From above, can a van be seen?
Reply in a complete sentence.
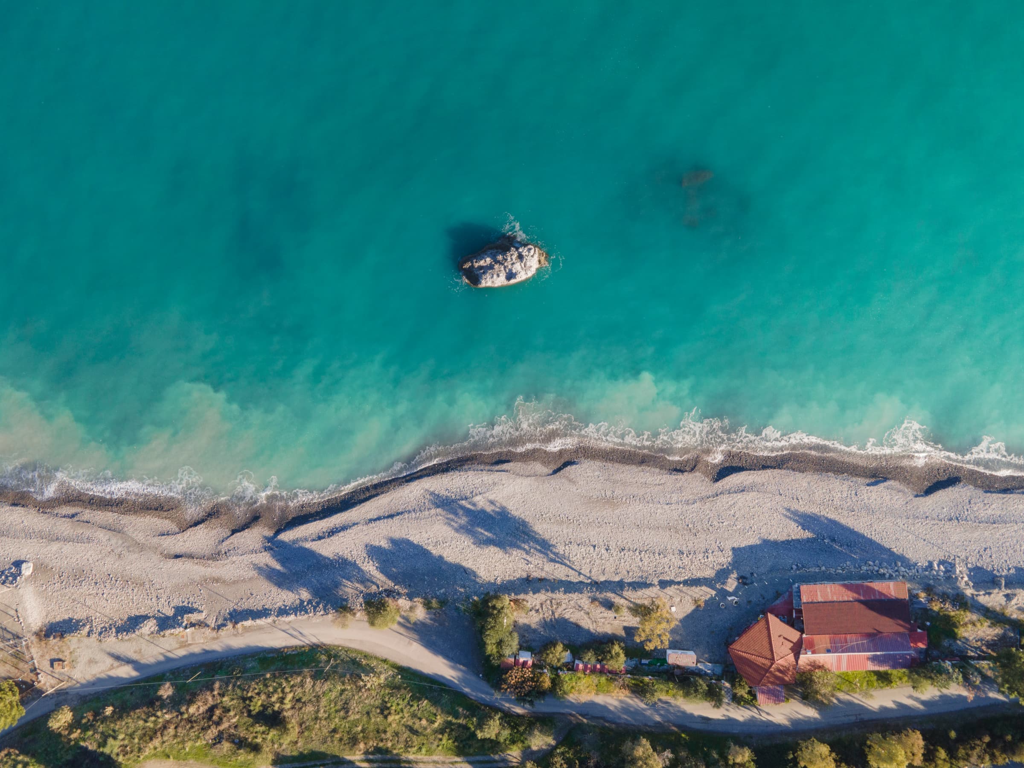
No, I can see no van in this picture.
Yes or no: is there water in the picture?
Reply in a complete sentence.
Yes, water shows up in the scene.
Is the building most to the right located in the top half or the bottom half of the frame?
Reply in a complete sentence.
The building most to the right sits in the bottom half of the picture.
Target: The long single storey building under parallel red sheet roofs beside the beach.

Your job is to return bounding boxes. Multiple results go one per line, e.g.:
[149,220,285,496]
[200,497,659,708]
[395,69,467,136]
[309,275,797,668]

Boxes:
[791,576,927,672]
